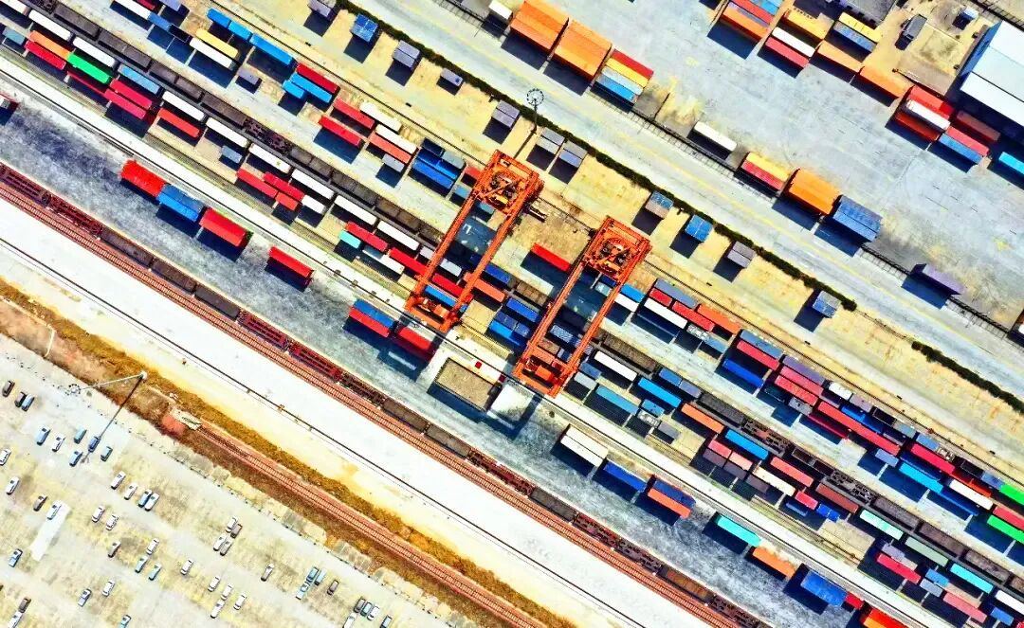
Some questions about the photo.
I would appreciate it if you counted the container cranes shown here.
2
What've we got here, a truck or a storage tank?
truck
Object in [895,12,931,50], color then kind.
gray truck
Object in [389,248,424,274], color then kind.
red shipping container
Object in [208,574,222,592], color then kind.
white car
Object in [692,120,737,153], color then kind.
white shipping container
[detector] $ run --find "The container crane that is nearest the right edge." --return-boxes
[505,217,649,402]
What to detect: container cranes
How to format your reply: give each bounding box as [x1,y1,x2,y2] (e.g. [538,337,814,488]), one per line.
[505,217,649,402]
[403,151,538,341]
